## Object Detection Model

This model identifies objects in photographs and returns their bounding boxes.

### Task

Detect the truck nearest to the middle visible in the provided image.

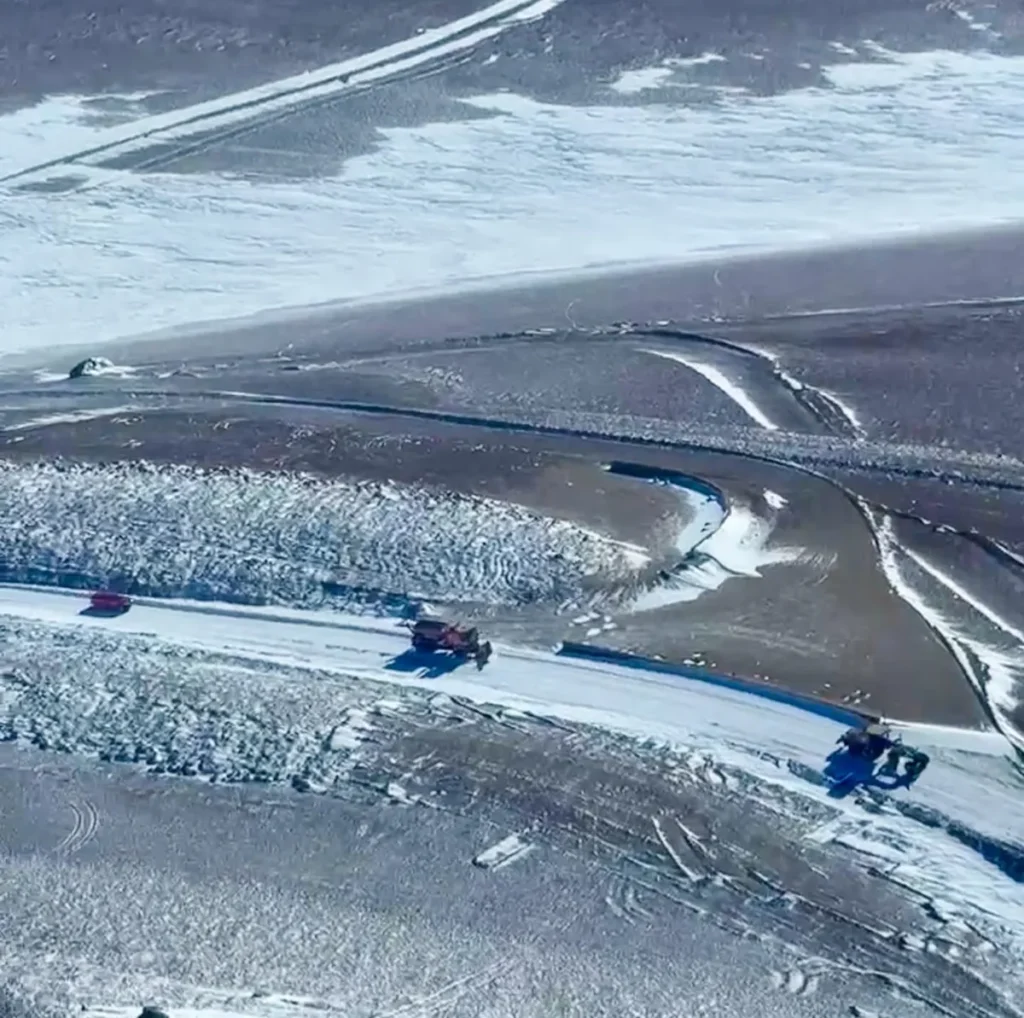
[408,621,491,672]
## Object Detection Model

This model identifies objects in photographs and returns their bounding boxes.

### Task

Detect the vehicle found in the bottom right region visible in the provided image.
[843,719,933,789]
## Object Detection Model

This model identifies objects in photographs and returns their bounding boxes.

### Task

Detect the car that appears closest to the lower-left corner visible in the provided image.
[87,590,133,613]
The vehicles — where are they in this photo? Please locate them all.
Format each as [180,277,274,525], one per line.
[87,590,133,613]
[408,621,491,672]
[843,719,933,789]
